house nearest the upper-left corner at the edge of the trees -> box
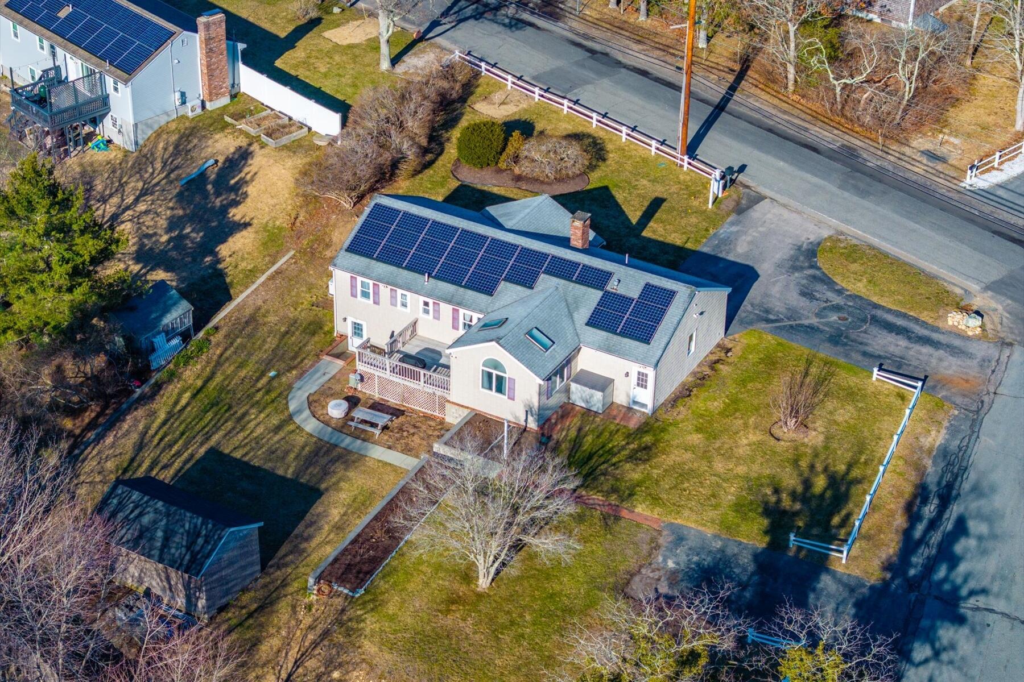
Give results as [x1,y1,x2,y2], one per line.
[0,0,247,160]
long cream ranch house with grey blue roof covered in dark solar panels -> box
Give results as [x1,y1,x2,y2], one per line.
[328,191,733,431]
